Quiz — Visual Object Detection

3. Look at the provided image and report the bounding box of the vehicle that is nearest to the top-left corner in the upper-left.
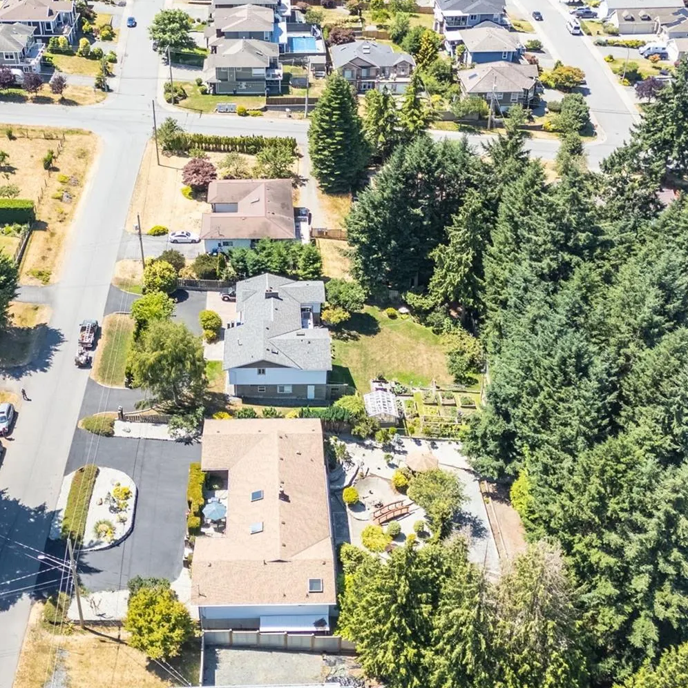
[125,10,138,25]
